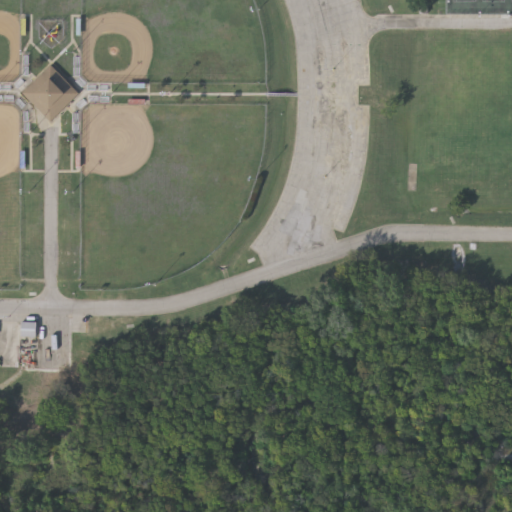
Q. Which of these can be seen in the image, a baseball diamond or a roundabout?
baseball diamond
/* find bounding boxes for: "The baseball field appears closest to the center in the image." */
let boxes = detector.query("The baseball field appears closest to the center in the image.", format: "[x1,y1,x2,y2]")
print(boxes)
[80,104,266,290]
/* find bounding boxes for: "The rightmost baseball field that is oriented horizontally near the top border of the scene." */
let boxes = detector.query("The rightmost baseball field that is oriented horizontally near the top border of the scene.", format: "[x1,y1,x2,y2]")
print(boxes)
[80,0,266,83]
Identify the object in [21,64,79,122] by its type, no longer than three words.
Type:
building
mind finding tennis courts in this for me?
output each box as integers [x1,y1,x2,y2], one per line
[448,0,479,14]
[479,0,512,14]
